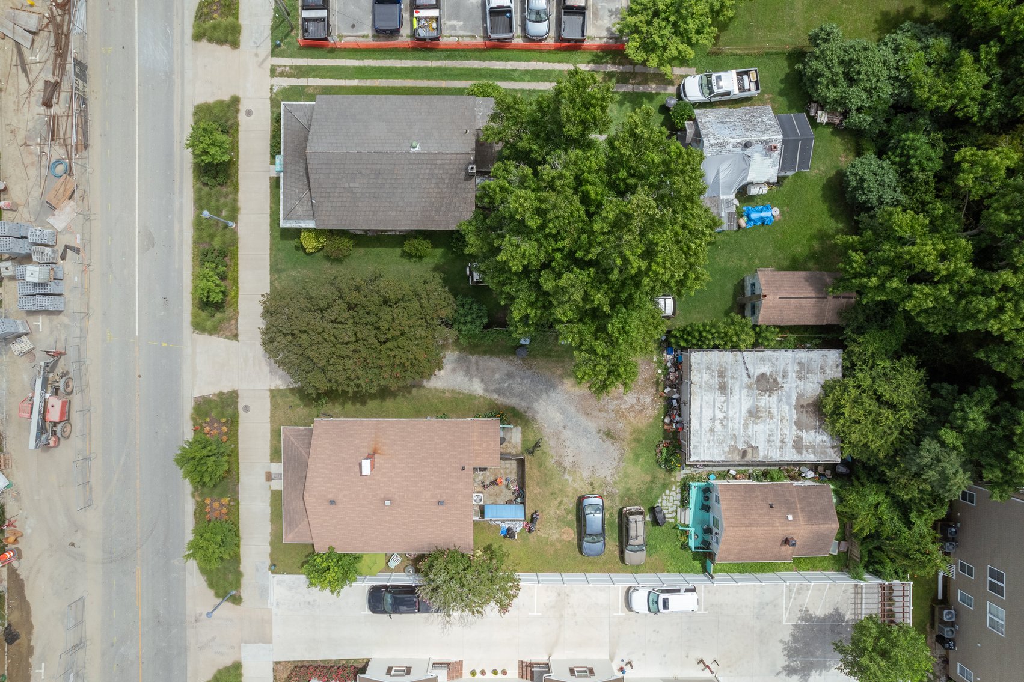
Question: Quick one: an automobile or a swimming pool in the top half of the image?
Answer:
automobile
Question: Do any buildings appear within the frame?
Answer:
Yes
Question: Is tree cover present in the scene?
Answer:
Yes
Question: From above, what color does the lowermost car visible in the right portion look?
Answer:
white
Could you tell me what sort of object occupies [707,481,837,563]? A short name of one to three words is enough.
house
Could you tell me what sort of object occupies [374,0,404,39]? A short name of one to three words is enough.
truck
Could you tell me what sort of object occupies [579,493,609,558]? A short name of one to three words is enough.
car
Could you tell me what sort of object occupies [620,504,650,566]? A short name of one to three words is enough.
car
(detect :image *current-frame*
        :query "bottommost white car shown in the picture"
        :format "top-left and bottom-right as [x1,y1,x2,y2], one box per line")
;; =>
[627,585,700,619]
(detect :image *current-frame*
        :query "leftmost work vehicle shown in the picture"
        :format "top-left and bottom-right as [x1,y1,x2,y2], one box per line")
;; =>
[14,342,73,453]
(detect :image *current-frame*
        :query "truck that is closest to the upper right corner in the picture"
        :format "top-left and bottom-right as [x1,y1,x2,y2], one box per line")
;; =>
[678,67,764,106]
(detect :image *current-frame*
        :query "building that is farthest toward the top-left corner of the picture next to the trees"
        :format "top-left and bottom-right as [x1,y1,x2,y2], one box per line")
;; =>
[278,94,502,230]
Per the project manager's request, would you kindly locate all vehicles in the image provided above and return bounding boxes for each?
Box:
[579,493,609,558]
[641,292,676,320]
[374,0,404,39]
[559,0,587,44]
[488,0,515,43]
[620,504,650,566]
[522,0,553,43]
[678,67,764,106]
[413,0,442,43]
[527,510,541,536]
[367,585,442,618]
[14,342,73,453]
[627,585,700,619]
[301,0,332,46]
